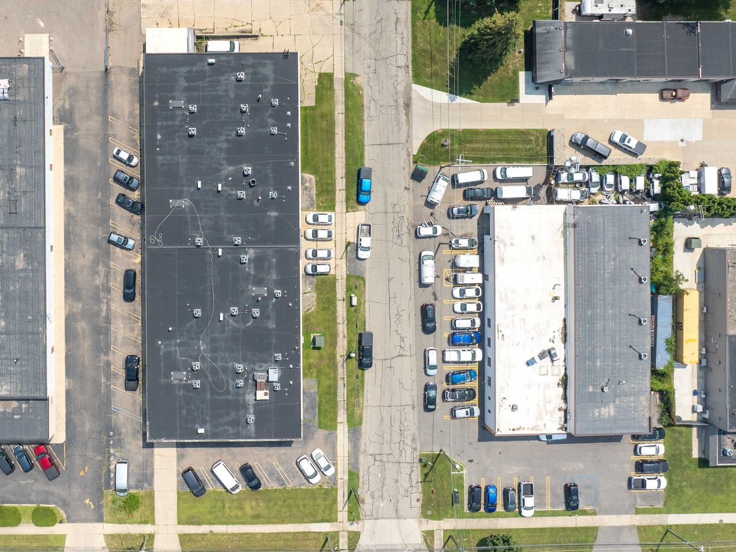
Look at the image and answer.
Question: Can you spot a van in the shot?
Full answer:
Yes, the photo shows a van.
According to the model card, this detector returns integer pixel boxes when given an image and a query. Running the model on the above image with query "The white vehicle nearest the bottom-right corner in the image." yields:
[629,475,666,491]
